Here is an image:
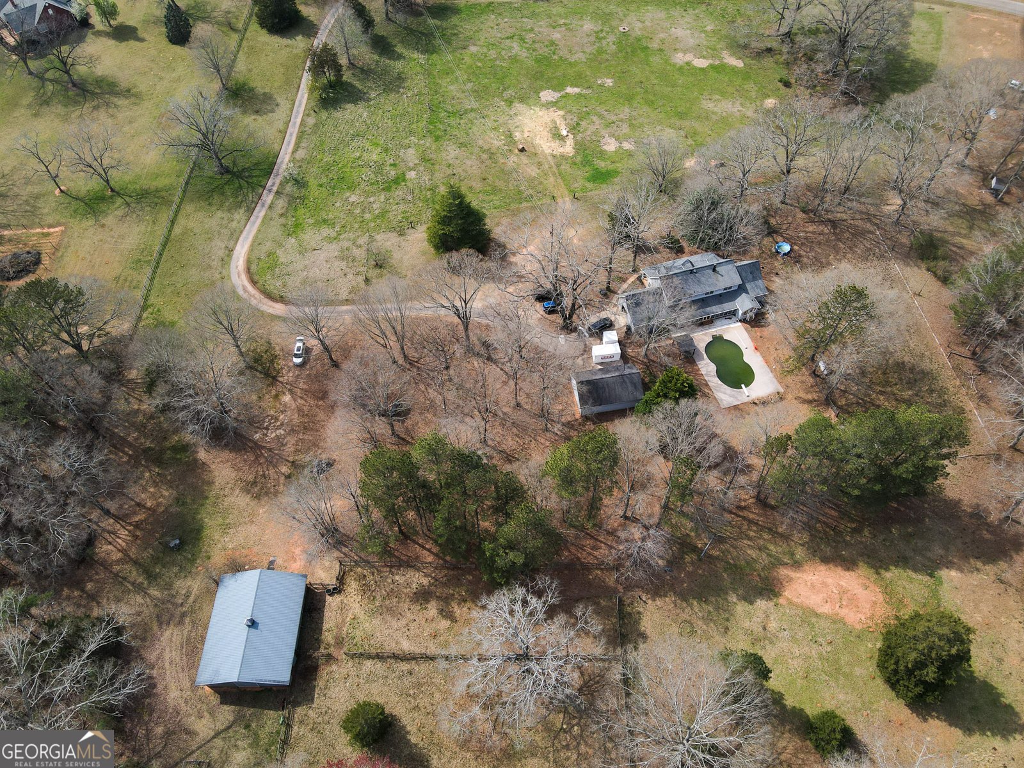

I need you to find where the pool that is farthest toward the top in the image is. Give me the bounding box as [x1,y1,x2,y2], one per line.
[775,241,792,257]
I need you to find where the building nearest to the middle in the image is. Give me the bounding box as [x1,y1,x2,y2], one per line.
[573,367,642,414]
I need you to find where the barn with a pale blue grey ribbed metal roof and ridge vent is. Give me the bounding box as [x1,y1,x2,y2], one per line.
[193,570,309,687]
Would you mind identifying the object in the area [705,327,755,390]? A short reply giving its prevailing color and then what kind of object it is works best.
green swimming pool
